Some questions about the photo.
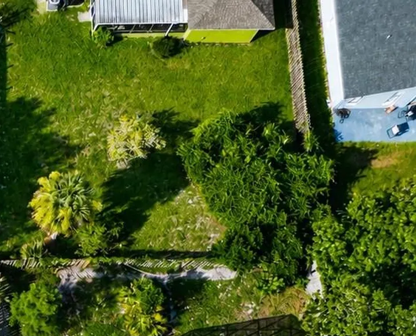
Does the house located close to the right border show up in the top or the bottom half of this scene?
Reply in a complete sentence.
The top half of the photo is where the house located close to the right border is.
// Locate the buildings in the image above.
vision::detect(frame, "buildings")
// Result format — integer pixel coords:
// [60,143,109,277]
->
[85,0,276,47]
[320,0,416,117]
